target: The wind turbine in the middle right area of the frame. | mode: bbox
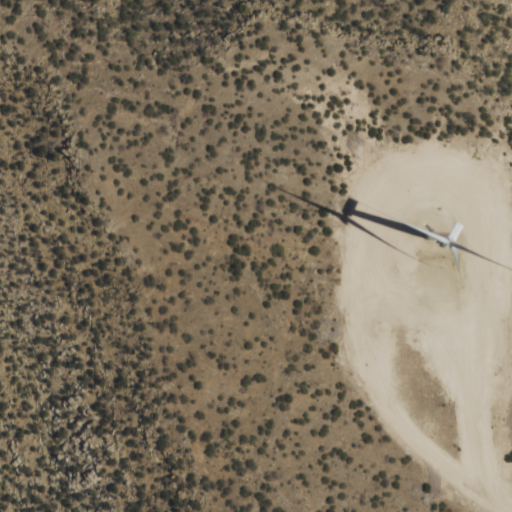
[354,203,512,272]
